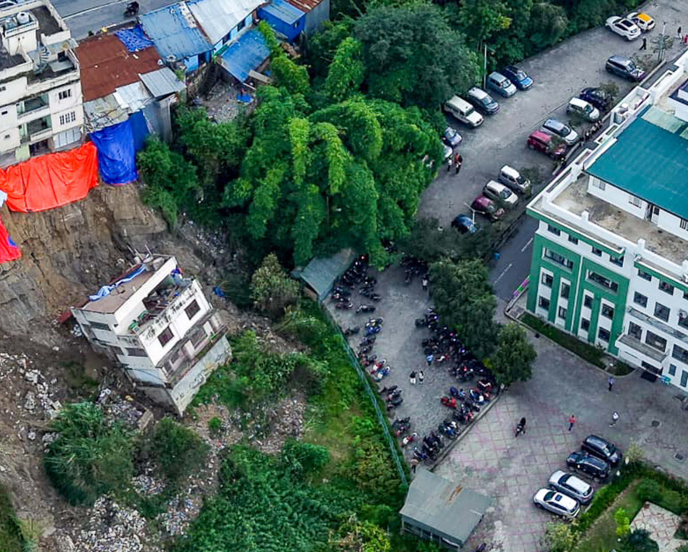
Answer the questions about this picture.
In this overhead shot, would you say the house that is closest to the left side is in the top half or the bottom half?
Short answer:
top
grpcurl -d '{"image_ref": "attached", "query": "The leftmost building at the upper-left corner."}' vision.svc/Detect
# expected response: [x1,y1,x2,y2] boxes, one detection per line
[0,0,85,170]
